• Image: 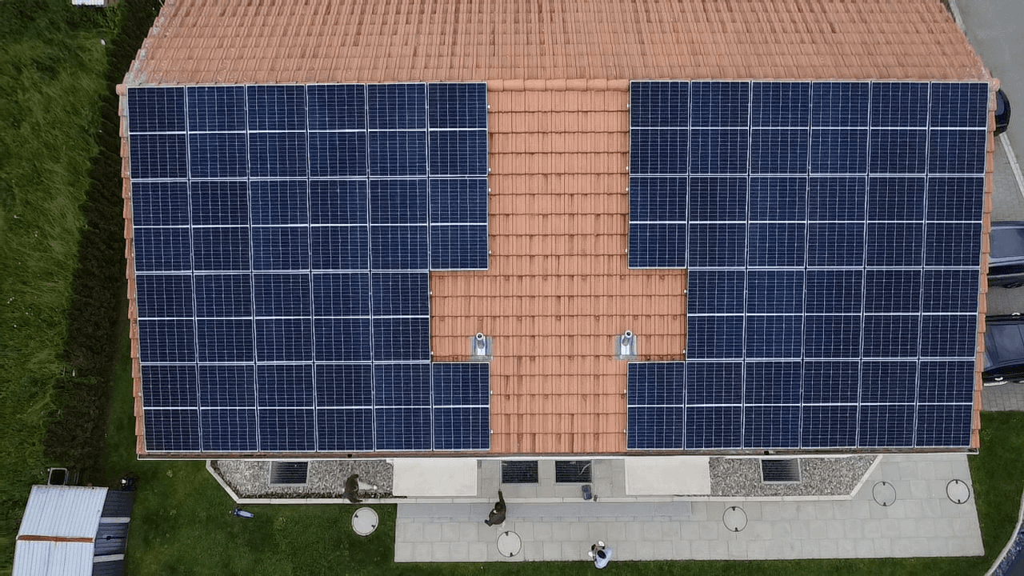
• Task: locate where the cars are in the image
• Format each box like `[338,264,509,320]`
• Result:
[985,316,1024,385]
[996,75,1021,137]
[990,216,1024,289]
